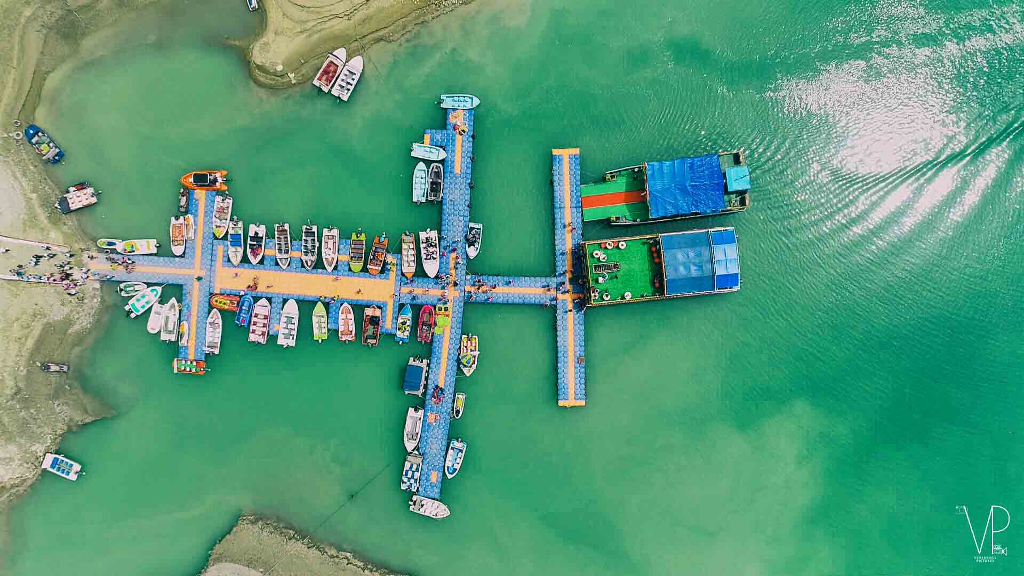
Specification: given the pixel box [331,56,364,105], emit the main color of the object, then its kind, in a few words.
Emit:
white boat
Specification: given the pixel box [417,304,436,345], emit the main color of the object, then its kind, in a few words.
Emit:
red boat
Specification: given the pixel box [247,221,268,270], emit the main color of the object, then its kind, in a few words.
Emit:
white boat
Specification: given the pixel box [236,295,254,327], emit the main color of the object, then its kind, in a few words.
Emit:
blue boat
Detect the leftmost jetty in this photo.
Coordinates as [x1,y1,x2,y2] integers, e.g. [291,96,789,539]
[88,252,186,284]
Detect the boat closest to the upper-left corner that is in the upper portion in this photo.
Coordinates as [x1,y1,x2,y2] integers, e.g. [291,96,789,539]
[25,124,68,167]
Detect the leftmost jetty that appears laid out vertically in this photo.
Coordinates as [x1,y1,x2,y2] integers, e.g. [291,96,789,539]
[178,188,218,361]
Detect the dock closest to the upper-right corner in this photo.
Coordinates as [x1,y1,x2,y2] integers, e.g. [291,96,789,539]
[552,148,582,208]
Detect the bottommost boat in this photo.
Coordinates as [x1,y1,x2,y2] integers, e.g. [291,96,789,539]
[407,495,450,518]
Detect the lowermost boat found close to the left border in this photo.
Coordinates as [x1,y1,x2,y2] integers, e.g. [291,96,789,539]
[42,454,88,480]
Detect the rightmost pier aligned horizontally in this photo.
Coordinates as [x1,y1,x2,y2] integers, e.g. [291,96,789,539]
[464,274,556,309]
